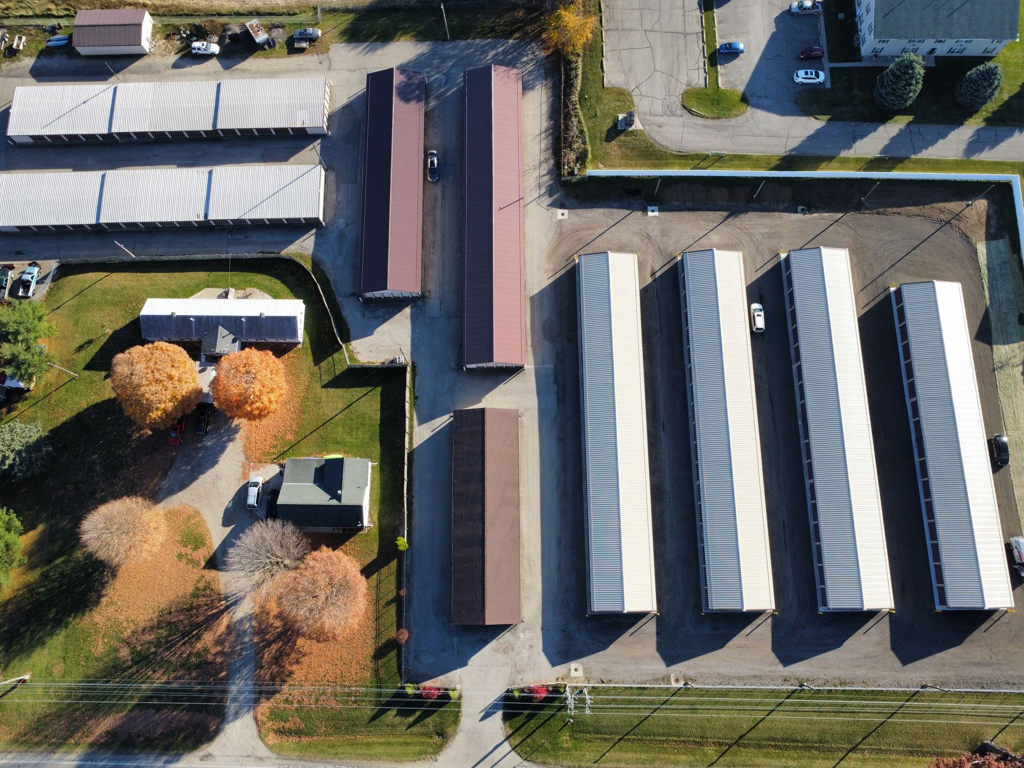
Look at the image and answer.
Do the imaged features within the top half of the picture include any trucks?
Yes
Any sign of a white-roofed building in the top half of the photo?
Yes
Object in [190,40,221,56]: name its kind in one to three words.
car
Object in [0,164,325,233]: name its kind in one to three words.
building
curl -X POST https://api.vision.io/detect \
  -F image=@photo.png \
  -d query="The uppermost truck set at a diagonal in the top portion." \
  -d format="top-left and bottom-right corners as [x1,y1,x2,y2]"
[247,17,280,58]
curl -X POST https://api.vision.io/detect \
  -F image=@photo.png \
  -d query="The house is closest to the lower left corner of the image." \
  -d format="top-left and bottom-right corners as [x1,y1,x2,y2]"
[274,457,378,536]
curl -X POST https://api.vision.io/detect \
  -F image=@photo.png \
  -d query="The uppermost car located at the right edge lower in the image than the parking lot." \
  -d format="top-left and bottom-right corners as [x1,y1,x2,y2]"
[991,434,1012,466]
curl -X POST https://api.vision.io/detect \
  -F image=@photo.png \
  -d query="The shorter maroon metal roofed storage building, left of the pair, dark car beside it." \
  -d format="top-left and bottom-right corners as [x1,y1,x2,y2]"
[359,66,425,296]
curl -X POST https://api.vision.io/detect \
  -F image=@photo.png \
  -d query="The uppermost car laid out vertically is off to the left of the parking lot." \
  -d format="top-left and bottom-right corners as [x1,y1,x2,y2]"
[426,151,439,183]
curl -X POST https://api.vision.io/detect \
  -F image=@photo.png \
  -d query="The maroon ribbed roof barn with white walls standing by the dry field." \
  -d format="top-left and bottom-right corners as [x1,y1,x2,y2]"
[70,8,153,56]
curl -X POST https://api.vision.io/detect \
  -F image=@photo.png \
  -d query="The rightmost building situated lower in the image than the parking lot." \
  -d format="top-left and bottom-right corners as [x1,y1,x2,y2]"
[887,281,1015,608]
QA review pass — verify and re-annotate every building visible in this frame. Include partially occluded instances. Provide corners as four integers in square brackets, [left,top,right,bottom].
[7,77,330,143]
[359,66,425,296]
[674,248,775,611]
[450,407,523,625]
[138,296,305,353]
[462,64,526,367]
[778,245,895,610]
[571,251,660,613]
[887,281,1015,608]
[0,164,325,233]
[70,8,153,56]
[854,0,1017,56]
[274,457,378,536]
